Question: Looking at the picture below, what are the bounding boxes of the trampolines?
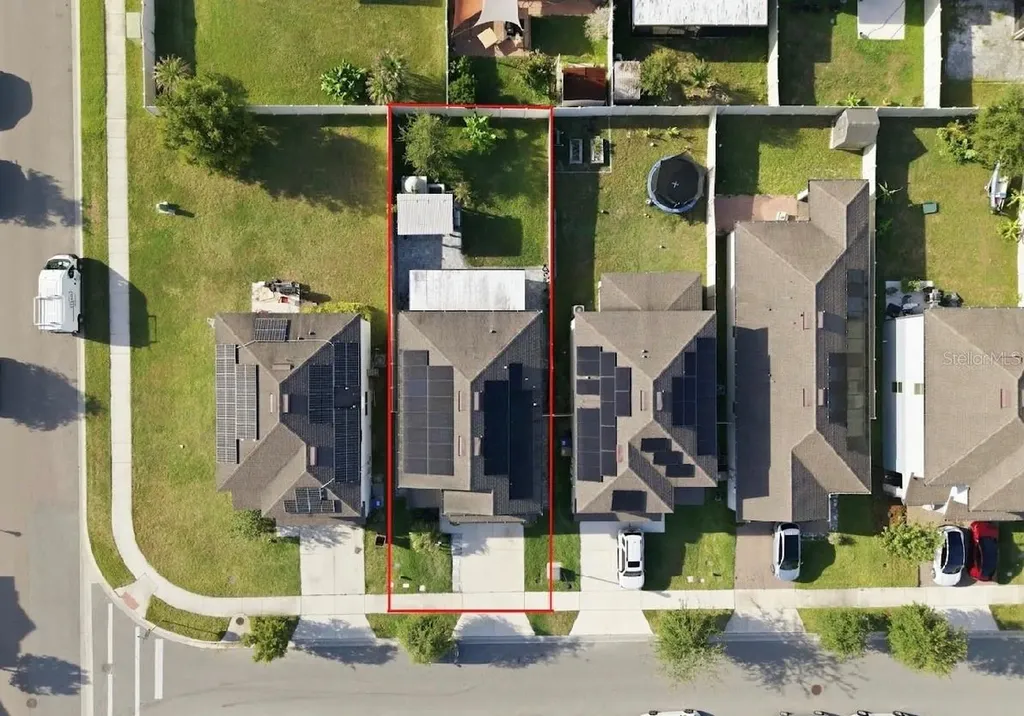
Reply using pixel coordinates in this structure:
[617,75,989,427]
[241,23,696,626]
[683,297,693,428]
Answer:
[648,147,709,213]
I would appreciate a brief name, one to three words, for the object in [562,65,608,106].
shed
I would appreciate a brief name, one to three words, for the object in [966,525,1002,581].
car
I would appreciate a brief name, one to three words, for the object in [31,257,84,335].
van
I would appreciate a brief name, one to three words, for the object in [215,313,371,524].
house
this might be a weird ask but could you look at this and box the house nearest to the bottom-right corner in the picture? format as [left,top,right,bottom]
[884,307,1024,521]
